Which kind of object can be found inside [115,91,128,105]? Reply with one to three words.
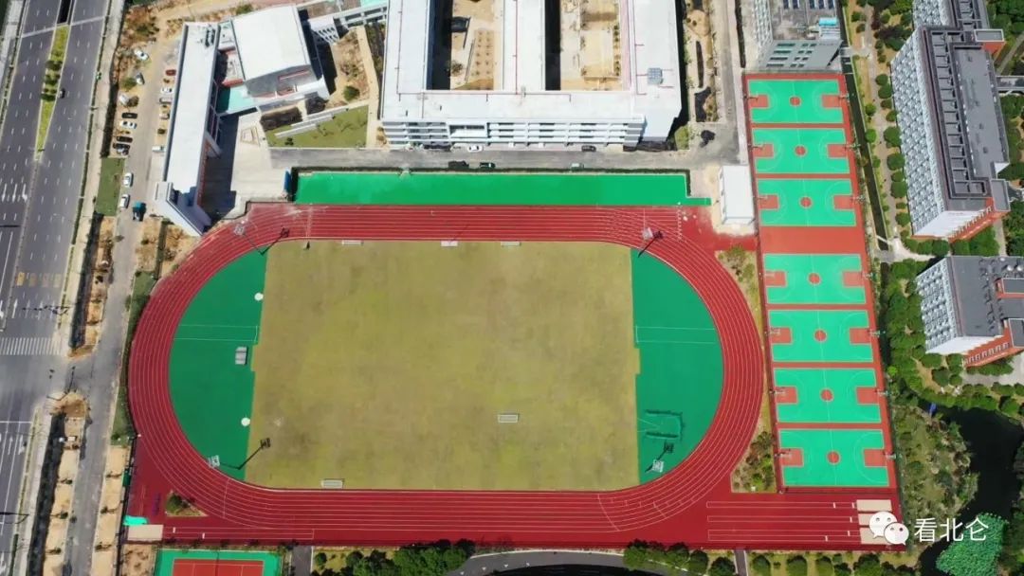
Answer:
vehicle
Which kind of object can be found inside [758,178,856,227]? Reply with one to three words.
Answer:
basketball court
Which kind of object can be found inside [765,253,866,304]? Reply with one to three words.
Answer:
basketball court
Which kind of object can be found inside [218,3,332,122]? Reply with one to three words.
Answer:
building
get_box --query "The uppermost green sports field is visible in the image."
[296,172,712,205]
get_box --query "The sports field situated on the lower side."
[245,240,640,491]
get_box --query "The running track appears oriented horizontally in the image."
[125,203,901,552]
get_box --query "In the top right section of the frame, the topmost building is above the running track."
[751,0,844,67]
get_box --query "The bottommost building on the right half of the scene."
[915,257,1024,354]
